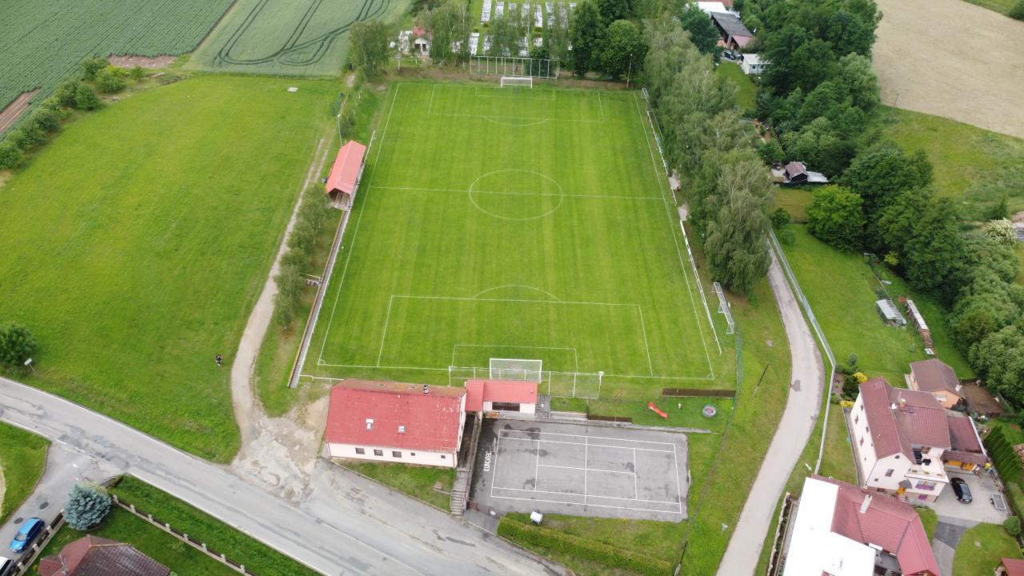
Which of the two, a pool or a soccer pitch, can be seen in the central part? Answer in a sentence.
You can see a soccer pitch in the central part.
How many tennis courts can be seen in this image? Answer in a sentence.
In total, 1 tennis court can be seen.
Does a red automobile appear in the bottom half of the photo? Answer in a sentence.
No, I can find no red automobile in the bottom half of the photo.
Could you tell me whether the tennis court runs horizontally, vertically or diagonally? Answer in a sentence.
The tennis court is laid out horizontally.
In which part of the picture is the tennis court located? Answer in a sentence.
You can find the tennis court in the bottom area of the picture.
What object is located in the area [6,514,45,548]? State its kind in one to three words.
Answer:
car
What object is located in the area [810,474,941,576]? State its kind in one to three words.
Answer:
house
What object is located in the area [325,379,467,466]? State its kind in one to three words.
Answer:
building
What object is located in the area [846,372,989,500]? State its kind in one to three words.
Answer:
house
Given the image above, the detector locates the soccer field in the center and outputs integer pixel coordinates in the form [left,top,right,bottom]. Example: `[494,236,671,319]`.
[303,81,733,390]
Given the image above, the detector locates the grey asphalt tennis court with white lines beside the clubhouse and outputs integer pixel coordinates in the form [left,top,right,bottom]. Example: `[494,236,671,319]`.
[472,421,687,522]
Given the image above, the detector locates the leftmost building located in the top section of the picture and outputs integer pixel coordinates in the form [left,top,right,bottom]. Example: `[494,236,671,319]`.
[413,27,430,55]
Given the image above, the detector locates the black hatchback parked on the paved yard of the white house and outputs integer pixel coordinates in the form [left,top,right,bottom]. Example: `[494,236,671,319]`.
[951,476,979,504]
